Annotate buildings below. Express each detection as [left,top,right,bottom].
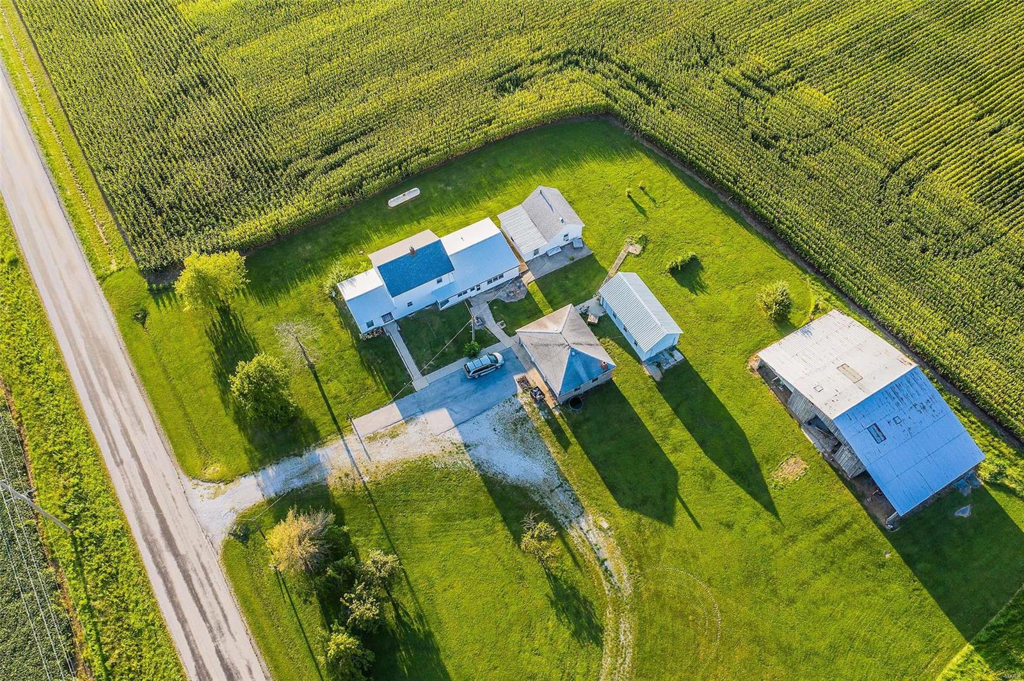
[335,217,520,333]
[598,272,683,361]
[497,184,585,263]
[515,303,617,402]
[757,307,979,530]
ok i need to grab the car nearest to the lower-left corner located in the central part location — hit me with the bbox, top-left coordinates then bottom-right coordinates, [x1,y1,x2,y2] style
[461,348,507,378]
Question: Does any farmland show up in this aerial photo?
Yes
